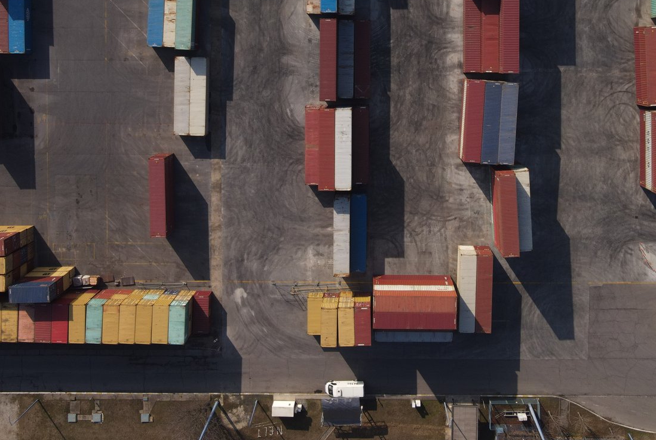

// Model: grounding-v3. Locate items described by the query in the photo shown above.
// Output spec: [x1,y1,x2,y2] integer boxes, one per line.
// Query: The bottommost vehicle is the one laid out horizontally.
[326,376,364,394]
